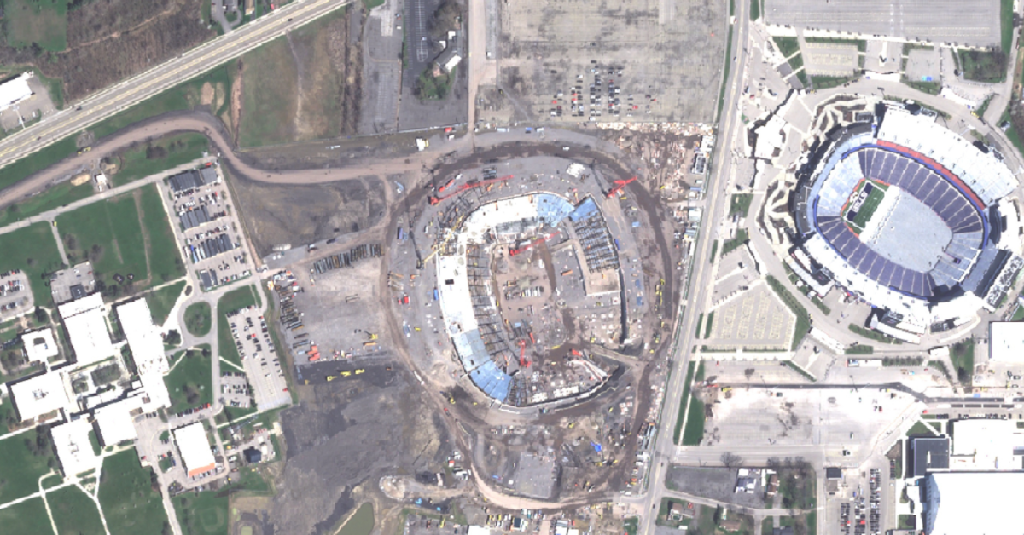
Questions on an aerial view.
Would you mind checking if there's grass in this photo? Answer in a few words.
Yes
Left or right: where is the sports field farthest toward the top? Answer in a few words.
right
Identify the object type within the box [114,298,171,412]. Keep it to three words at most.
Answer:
building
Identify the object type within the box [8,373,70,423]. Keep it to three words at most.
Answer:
building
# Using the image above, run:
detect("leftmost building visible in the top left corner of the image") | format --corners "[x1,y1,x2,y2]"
[0,71,33,109]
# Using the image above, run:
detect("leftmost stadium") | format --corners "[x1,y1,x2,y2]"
[434,176,632,412]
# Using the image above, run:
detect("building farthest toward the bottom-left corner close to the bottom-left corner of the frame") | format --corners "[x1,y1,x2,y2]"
[48,419,96,478]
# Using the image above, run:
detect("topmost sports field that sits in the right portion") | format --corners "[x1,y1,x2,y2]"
[841,178,952,274]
